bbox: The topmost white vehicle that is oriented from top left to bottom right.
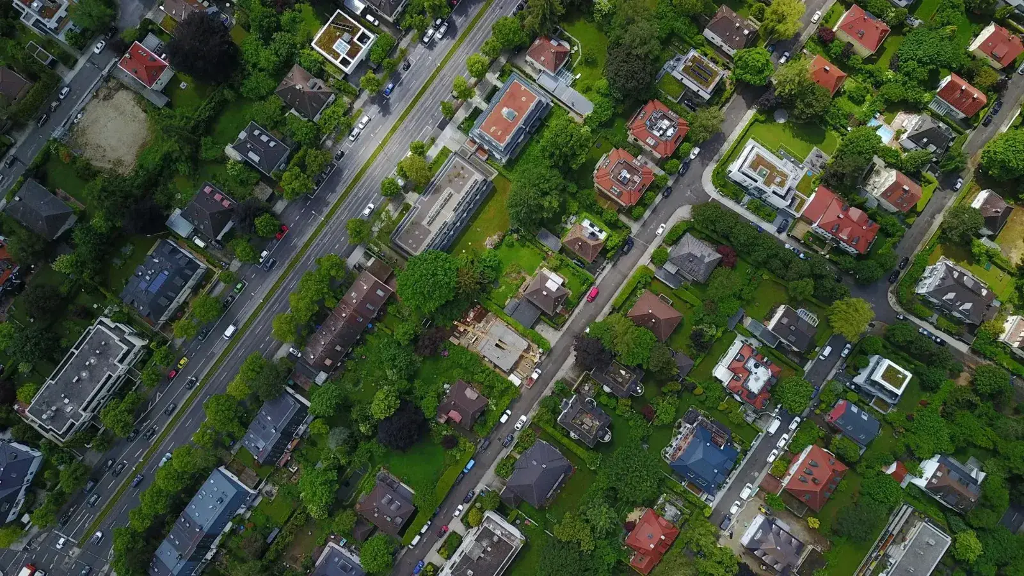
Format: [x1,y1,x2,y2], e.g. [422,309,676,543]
[363,13,380,28]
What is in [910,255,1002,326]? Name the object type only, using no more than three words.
house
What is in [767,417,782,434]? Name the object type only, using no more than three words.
vehicle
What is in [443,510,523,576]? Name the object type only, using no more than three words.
building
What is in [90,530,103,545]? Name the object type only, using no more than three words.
vehicle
